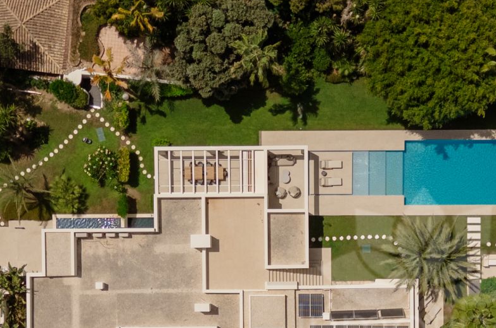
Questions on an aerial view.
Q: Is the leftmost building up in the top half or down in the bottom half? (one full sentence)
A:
Seen from above, the leftmost building lies in the top half of the view.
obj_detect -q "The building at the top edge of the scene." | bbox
[0,0,82,78]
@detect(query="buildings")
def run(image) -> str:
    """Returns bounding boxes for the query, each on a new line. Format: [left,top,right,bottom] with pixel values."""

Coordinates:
[27,146,419,328]
[0,0,82,78]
